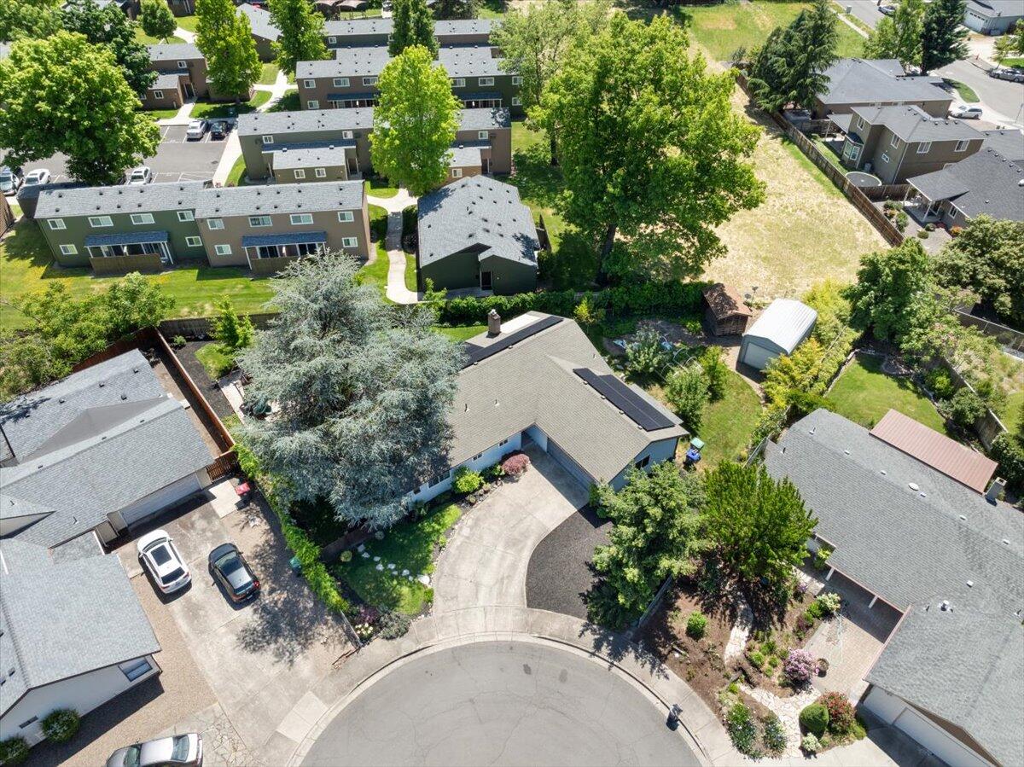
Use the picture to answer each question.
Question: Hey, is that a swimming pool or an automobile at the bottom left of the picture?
automobile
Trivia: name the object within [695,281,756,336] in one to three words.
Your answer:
shed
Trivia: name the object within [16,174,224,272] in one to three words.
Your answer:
building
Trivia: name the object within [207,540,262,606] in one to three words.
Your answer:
car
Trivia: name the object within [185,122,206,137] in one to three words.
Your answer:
car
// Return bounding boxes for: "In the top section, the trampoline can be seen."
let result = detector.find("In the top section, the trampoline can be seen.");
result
[847,171,884,187]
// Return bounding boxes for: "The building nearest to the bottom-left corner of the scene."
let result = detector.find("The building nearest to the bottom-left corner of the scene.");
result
[0,520,165,764]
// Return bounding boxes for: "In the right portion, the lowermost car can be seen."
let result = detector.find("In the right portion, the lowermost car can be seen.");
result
[948,101,987,117]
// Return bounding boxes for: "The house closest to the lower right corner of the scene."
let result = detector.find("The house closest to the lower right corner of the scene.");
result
[749,409,1024,767]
